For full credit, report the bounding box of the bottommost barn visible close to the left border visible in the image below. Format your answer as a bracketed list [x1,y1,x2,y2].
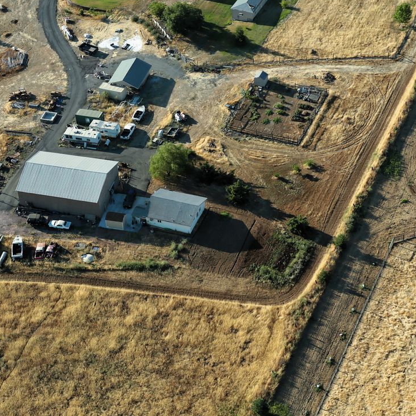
[15,150,118,217]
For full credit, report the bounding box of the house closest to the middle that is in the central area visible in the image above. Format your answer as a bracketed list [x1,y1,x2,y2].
[147,189,207,235]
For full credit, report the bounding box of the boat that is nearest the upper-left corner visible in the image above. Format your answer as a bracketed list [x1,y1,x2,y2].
[129,102,145,121]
